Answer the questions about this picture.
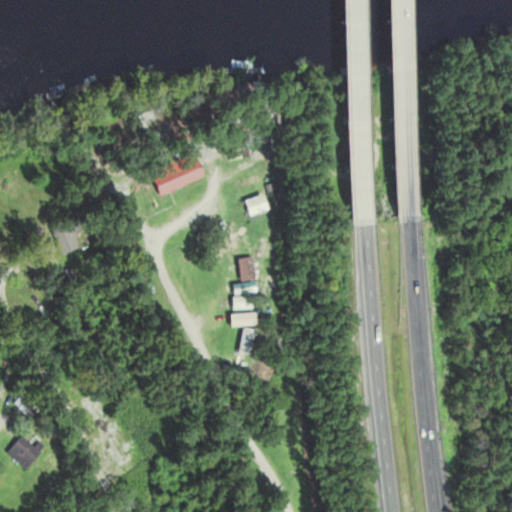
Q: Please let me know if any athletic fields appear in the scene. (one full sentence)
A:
No, there isn't any athletic field down there.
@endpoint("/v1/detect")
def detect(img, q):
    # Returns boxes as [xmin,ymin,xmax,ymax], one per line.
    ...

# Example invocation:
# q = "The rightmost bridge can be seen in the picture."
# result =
[389,0,424,223]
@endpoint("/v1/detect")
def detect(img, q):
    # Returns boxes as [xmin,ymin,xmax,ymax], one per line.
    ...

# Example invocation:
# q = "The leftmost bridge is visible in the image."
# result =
[344,0,377,226]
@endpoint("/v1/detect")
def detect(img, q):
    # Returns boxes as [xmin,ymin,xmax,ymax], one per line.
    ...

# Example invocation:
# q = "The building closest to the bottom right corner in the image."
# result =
[250,360,276,382]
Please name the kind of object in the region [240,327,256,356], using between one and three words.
house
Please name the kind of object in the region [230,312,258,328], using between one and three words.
house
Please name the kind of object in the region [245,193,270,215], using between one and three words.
building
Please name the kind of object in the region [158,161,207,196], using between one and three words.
barn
